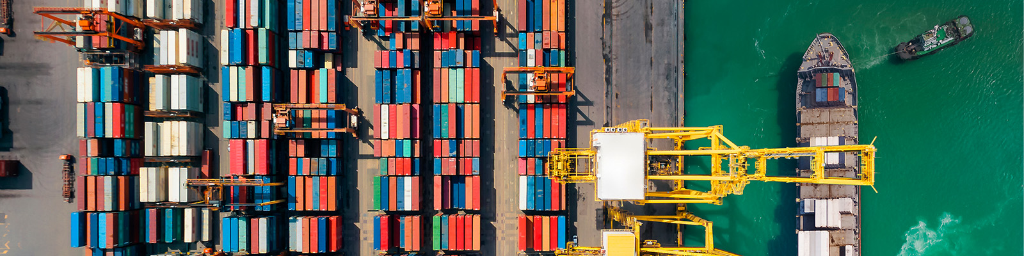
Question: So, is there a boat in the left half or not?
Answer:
No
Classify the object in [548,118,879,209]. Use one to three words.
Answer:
container crane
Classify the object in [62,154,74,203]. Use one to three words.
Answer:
vehicle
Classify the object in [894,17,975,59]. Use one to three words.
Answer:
boat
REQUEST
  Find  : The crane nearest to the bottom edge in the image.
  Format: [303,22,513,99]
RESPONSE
[548,202,763,256]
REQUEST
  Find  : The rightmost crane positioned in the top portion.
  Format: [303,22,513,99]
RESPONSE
[502,64,574,108]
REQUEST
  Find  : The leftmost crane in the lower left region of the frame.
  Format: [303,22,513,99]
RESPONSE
[188,174,285,209]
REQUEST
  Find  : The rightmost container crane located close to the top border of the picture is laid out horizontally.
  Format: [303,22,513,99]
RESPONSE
[423,0,501,39]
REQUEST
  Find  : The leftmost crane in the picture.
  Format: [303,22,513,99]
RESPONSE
[33,7,144,53]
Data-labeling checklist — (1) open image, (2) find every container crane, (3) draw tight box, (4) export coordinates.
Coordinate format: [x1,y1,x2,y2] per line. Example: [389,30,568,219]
[502,64,574,108]
[33,7,144,53]
[270,102,362,142]
[349,0,432,39]
[548,202,763,256]
[423,0,501,39]
[548,118,879,209]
